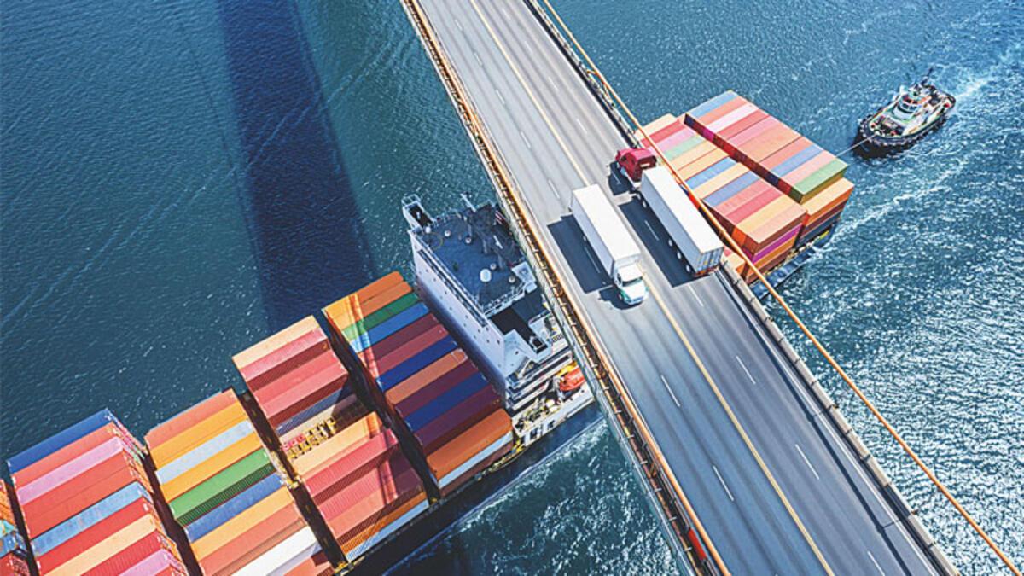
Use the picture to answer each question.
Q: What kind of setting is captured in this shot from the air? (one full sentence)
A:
This image shows a port.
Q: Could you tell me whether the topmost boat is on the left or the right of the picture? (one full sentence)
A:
The topmost boat is on the right side of the image.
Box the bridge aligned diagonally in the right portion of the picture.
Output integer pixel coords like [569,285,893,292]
[395,0,1022,576]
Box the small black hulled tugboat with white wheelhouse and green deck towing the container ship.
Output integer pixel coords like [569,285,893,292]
[858,62,963,160]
